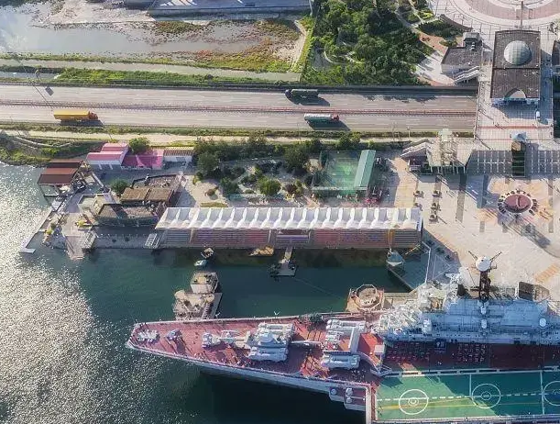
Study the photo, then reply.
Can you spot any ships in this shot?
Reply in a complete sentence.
Yes, this view includes a ship.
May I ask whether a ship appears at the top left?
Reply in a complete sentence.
No, I see no ship at the top left.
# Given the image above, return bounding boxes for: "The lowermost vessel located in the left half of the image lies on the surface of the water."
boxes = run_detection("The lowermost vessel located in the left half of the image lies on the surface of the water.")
[172,289,222,320]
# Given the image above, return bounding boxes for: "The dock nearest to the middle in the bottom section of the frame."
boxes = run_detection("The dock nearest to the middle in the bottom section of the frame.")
[274,250,296,278]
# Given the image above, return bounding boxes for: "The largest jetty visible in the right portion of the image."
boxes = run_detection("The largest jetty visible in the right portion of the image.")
[384,245,432,289]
